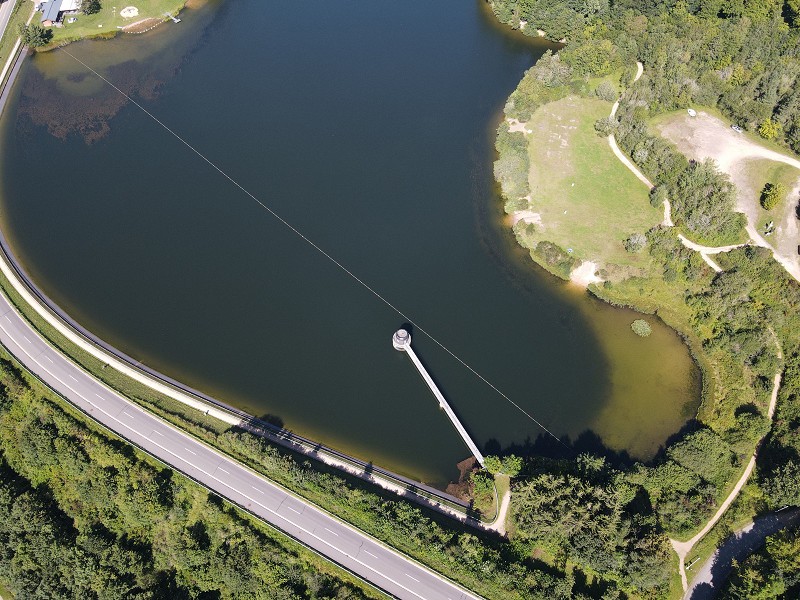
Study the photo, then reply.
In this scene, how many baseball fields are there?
0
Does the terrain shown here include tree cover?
Yes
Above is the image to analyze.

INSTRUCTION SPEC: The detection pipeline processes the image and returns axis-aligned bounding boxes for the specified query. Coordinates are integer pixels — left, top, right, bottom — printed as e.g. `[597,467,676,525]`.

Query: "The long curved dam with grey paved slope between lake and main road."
[0,227,508,541]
